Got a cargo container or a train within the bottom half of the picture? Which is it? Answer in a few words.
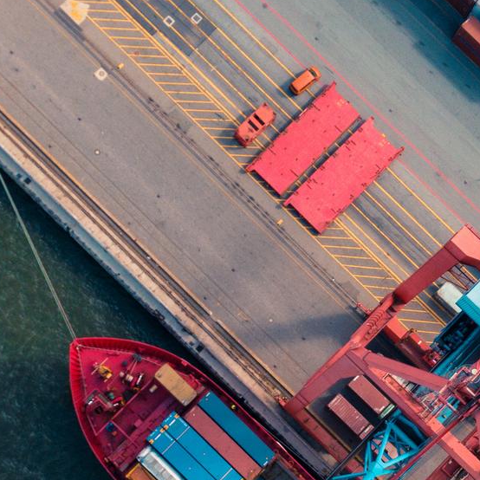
cargo container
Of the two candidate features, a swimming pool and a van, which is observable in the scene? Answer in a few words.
van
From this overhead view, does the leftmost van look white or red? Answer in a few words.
red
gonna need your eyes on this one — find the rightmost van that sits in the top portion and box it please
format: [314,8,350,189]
[289,69,319,99]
